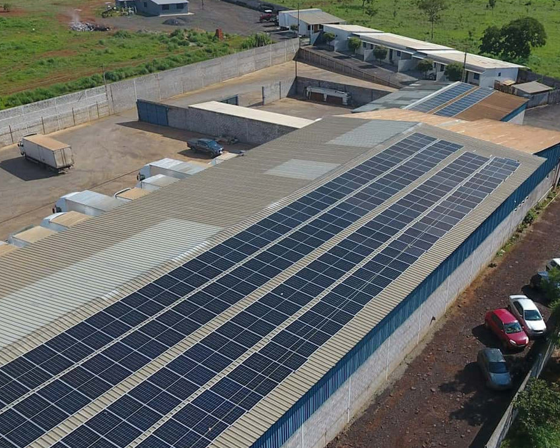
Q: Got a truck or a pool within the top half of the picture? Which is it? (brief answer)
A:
truck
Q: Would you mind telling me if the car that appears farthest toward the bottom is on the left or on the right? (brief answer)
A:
right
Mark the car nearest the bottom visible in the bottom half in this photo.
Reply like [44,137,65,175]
[475,346,518,394]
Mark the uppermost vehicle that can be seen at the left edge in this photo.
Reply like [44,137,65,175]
[14,133,79,174]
